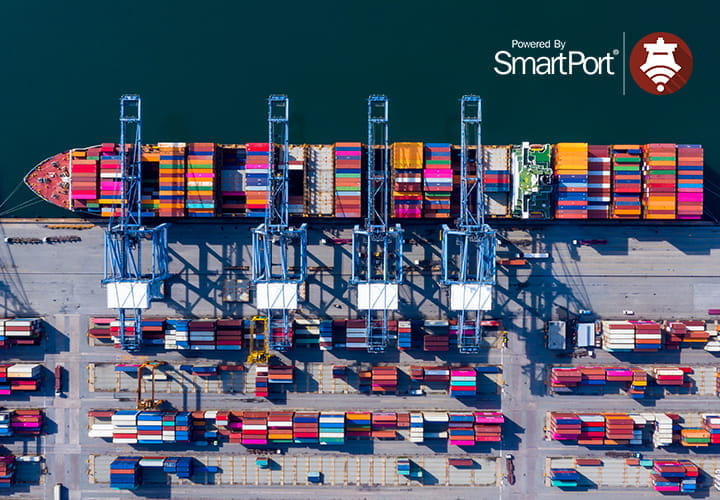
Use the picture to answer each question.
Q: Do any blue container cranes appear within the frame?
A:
Yes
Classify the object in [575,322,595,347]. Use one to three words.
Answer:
shed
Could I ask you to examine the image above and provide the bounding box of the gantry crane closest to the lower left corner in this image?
[136,357,168,409]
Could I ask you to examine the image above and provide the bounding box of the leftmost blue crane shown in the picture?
[102,93,182,353]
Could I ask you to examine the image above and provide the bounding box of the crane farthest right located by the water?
[430,93,497,353]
